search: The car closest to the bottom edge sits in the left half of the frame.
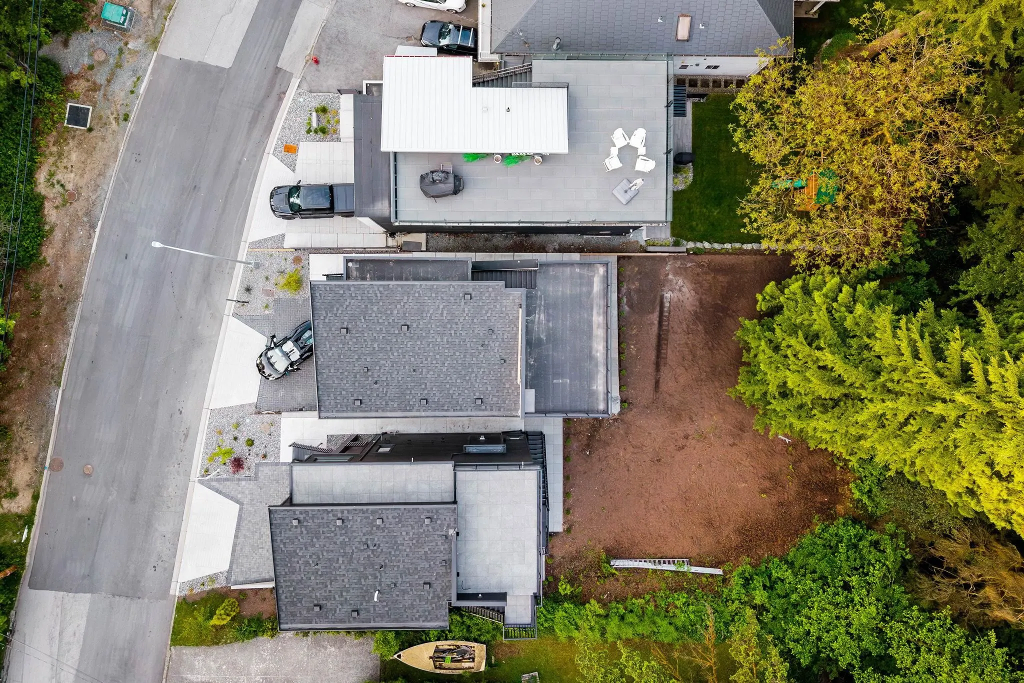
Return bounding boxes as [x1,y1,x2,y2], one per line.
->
[251,311,313,379]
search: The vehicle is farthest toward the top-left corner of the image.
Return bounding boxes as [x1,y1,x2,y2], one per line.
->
[269,179,367,223]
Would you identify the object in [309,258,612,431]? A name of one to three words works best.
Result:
house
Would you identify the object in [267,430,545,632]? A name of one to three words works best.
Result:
house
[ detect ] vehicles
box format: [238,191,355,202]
[251,311,313,379]
[420,17,485,67]
[393,0,468,17]
[269,179,367,223]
